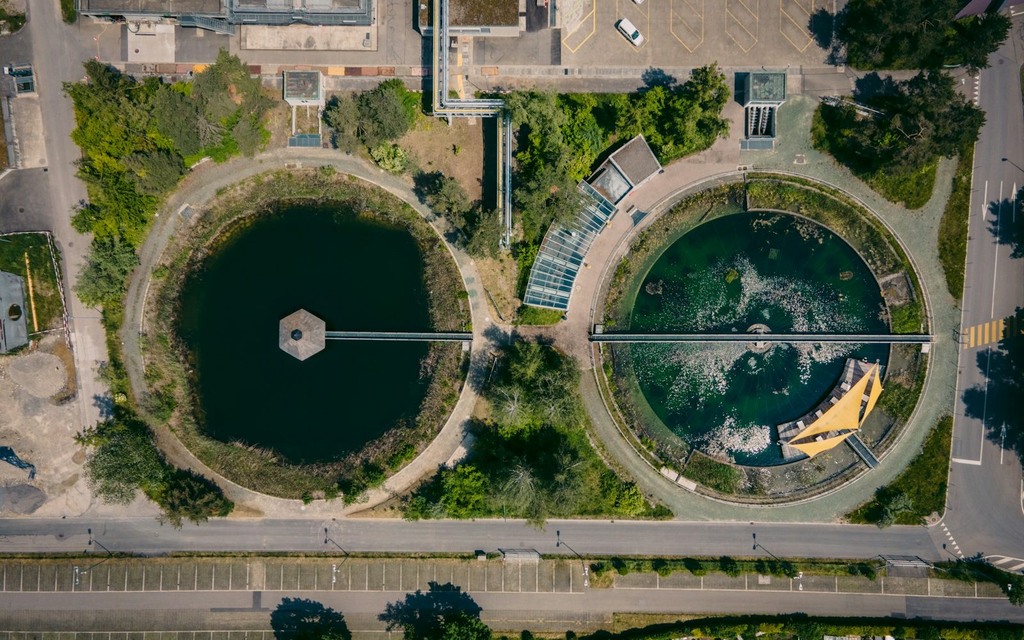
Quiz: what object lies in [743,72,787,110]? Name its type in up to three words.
building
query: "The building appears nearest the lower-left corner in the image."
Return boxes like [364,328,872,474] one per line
[279,308,326,361]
